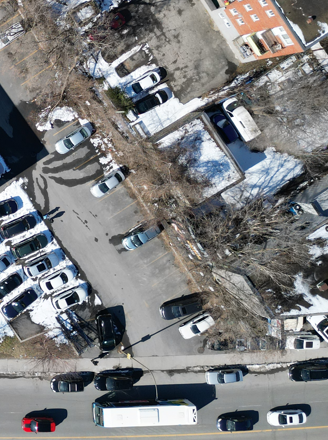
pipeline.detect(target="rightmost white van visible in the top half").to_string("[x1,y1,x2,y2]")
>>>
[220,99,264,142]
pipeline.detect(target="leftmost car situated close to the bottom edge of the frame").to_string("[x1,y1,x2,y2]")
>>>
[22,415,57,435]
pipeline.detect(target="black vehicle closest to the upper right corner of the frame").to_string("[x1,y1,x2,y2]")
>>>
[210,112,242,145]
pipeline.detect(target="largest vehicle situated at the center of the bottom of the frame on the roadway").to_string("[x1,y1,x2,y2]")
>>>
[85,395,198,426]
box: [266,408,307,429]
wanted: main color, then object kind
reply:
white car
